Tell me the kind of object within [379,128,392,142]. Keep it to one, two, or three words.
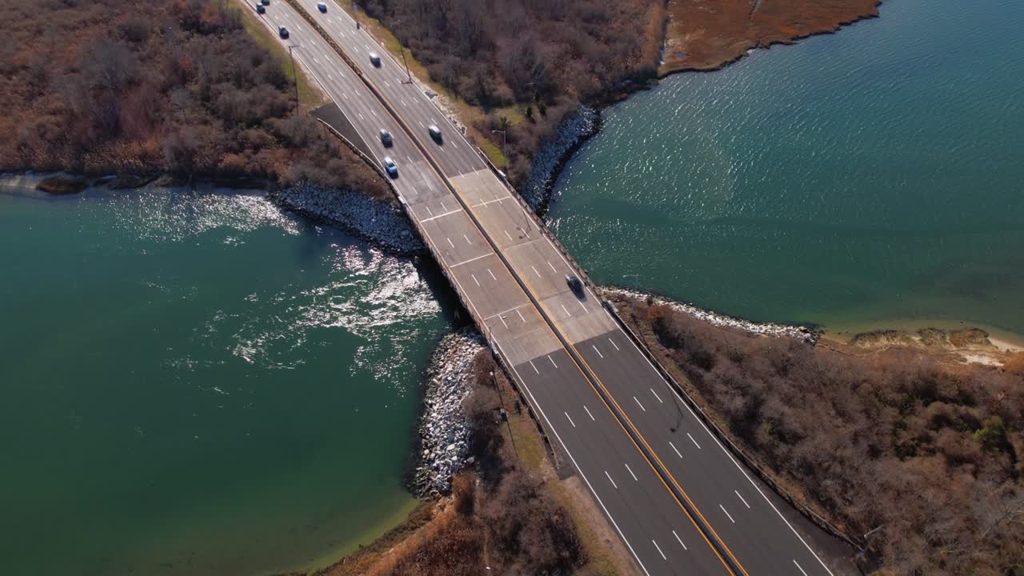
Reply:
vehicle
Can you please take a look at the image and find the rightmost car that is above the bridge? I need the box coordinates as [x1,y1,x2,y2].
[428,126,441,138]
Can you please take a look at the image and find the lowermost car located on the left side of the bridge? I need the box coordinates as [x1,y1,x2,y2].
[383,158,396,171]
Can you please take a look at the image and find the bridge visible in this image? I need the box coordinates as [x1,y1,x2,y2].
[397,167,624,367]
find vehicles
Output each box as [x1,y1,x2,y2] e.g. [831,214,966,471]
[379,128,392,142]
[318,4,326,10]
[279,27,288,36]
[369,53,380,63]
[428,126,441,138]
[383,158,396,171]
[262,0,271,6]
[256,2,266,12]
